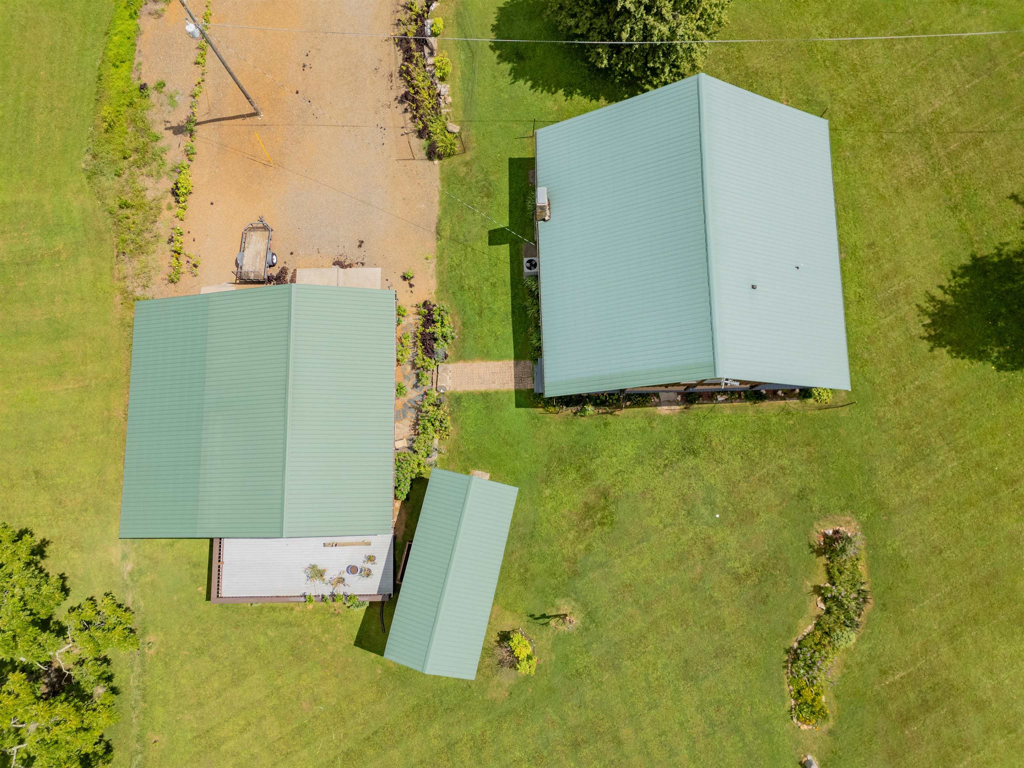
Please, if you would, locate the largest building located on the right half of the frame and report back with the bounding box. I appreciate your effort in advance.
[534,72,853,398]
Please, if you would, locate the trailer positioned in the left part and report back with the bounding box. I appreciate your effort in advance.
[229,213,274,281]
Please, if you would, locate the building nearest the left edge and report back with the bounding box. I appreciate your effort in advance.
[118,282,397,539]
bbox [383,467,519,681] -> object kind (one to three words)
shed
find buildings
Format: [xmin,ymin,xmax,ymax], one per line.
[534,72,853,398]
[118,282,397,539]
[383,467,519,681]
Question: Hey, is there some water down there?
No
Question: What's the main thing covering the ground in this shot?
grass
